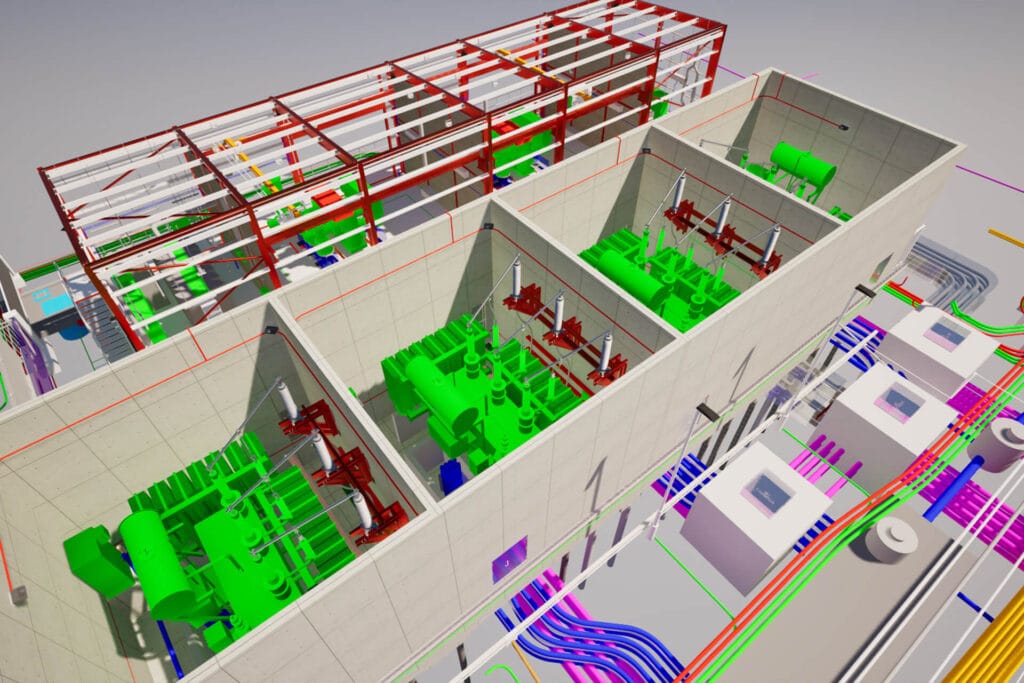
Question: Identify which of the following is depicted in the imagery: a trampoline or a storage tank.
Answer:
storage tank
